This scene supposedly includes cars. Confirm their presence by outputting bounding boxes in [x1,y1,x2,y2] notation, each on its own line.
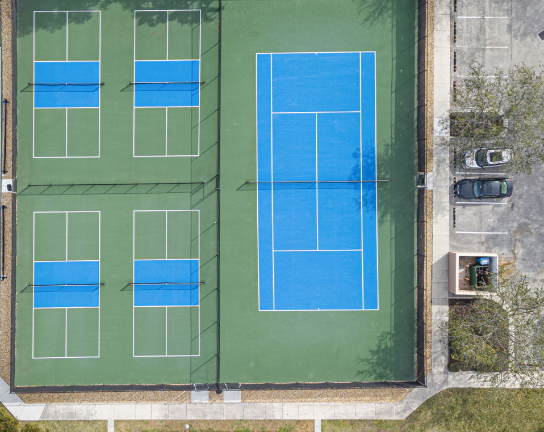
[462,146,514,171]
[458,177,512,201]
